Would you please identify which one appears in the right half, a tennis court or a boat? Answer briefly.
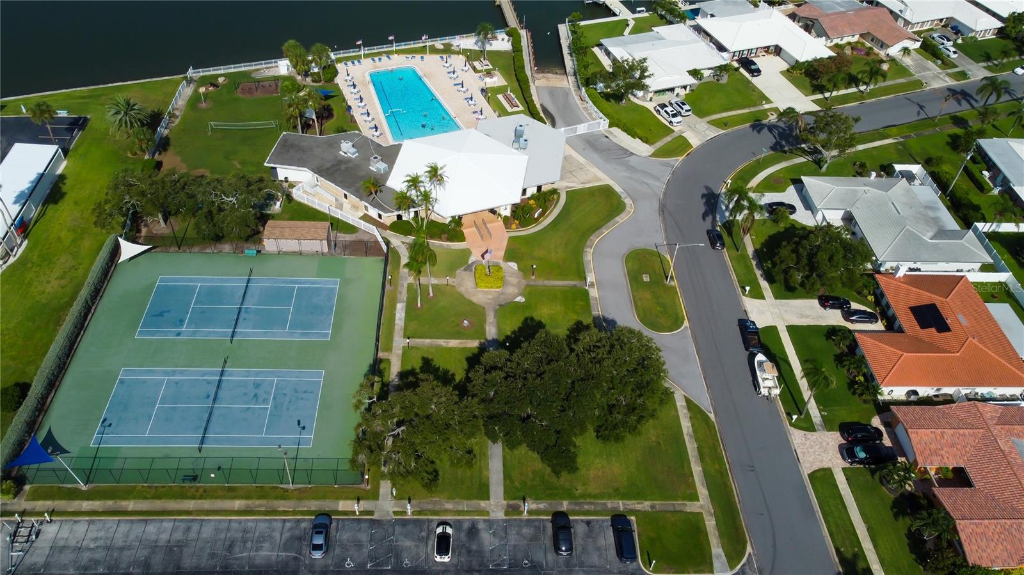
boat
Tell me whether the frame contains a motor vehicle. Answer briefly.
Yes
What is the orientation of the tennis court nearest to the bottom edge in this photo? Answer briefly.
from side to side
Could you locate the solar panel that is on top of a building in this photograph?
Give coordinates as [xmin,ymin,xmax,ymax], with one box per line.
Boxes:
[909,304,952,333]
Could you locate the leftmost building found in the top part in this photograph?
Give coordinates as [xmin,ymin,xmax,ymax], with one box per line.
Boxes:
[0,144,73,286]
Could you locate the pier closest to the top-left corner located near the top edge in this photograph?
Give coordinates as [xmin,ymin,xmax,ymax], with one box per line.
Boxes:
[498,0,520,31]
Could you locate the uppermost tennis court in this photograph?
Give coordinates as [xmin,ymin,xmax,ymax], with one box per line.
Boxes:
[135,267,340,344]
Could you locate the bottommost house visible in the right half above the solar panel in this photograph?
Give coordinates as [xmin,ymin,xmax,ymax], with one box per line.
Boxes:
[800,175,993,273]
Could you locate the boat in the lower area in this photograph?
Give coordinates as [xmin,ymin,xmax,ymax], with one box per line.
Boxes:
[758,351,787,401]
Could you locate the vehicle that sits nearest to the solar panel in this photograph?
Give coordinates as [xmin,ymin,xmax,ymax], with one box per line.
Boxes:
[844,308,881,326]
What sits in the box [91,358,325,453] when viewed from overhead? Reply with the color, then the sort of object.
blue tennis court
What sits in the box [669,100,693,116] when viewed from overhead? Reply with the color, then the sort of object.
white car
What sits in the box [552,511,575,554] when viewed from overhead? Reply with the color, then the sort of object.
black car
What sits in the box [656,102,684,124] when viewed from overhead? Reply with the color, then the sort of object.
white truck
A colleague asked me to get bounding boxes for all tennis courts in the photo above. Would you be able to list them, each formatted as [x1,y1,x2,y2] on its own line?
[135,267,340,344]
[91,358,325,453]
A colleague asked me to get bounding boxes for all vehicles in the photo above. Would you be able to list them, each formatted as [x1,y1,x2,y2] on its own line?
[552,511,575,554]
[768,201,798,214]
[707,227,727,250]
[309,512,331,557]
[931,33,955,45]
[611,515,640,562]
[818,292,854,309]
[1014,63,1024,73]
[656,102,684,124]
[740,56,762,74]
[841,422,887,445]
[738,317,766,351]
[845,444,900,466]
[433,522,454,560]
[844,308,881,326]
[669,100,693,116]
